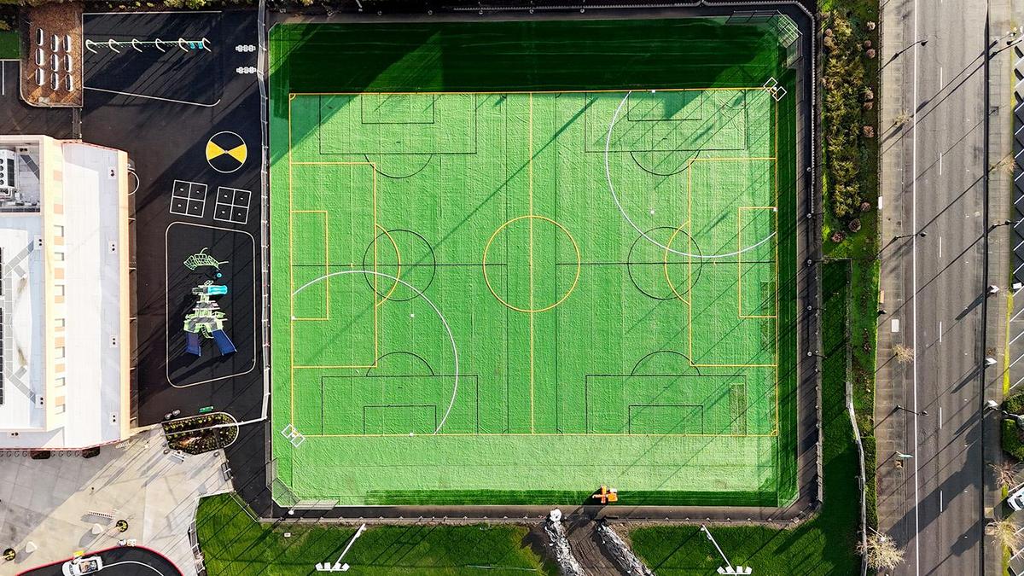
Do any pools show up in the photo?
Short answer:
No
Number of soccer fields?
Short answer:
3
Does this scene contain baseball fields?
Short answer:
Yes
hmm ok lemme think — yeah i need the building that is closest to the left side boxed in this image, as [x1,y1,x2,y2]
[0,135,139,450]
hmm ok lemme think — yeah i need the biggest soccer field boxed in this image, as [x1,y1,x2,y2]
[269,15,799,508]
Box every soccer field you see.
[269,15,799,508]
[298,92,508,435]
[556,90,767,435]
